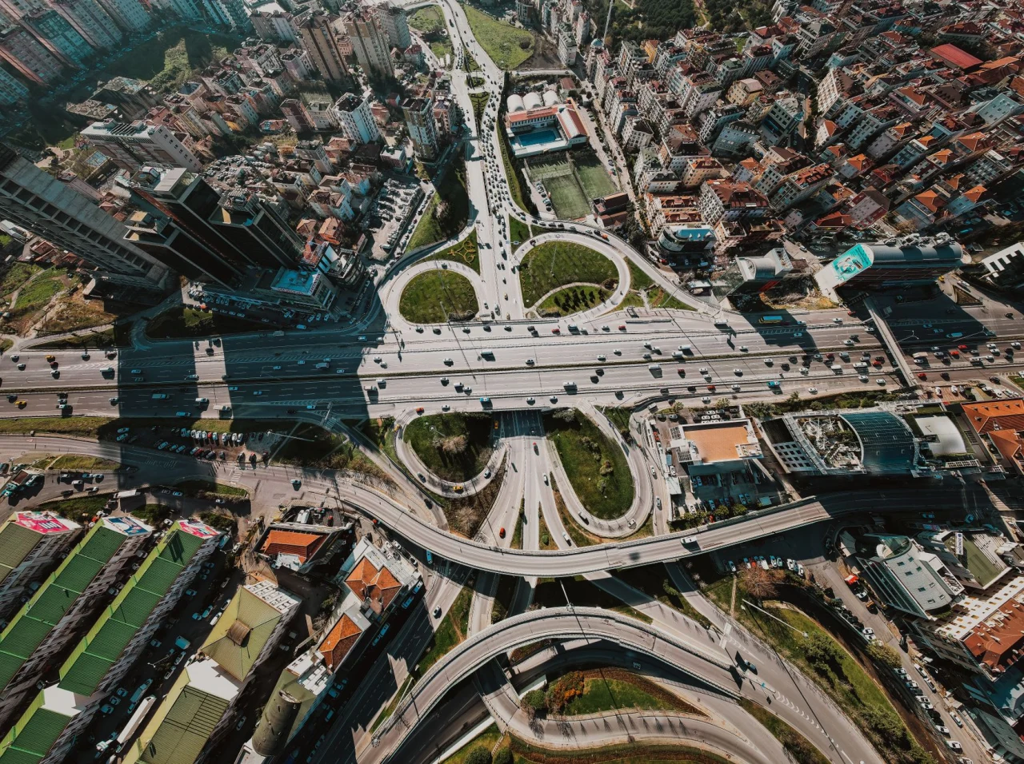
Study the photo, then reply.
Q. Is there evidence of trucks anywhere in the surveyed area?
Yes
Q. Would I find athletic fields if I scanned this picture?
Yes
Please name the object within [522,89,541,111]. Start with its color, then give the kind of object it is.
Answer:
white tent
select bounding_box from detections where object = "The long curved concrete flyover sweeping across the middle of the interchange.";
[334,478,1024,576]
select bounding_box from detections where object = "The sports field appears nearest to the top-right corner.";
[570,150,616,201]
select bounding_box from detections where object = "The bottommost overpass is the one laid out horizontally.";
[352,602,766,764]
